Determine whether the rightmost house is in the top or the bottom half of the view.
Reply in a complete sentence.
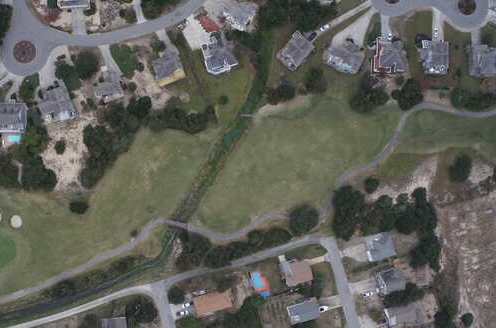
The rightmost house is in the top half of the image.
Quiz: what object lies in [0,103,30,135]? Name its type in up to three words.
house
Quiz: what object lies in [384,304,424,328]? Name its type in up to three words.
house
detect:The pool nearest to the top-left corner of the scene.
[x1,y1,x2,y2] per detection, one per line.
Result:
[1,133,23,148]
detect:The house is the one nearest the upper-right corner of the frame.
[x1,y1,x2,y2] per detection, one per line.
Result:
[464,43,496,80]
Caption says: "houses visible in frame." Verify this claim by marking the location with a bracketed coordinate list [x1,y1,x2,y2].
[416,39,449,77]
[285,297,321,323]
[277,29,315,74]
[94,66,125,104]
[364,233,395,262]
[372,267,406,293]
[200,35,239,79]
[278,258,313,285]
[464,43,496,80]
[384,304,424,328]
[194,289,232,315]
[325,45,367,76]
[151,48,186,85]
[40,84,77,125]
[0,103,30,135]
[373,35,406,75]
[102,317,127,328]
[58,0,89,10]
[219,4,255,35]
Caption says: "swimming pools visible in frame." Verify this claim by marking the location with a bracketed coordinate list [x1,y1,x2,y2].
[1,133,23,148]
[252,271,270,293]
